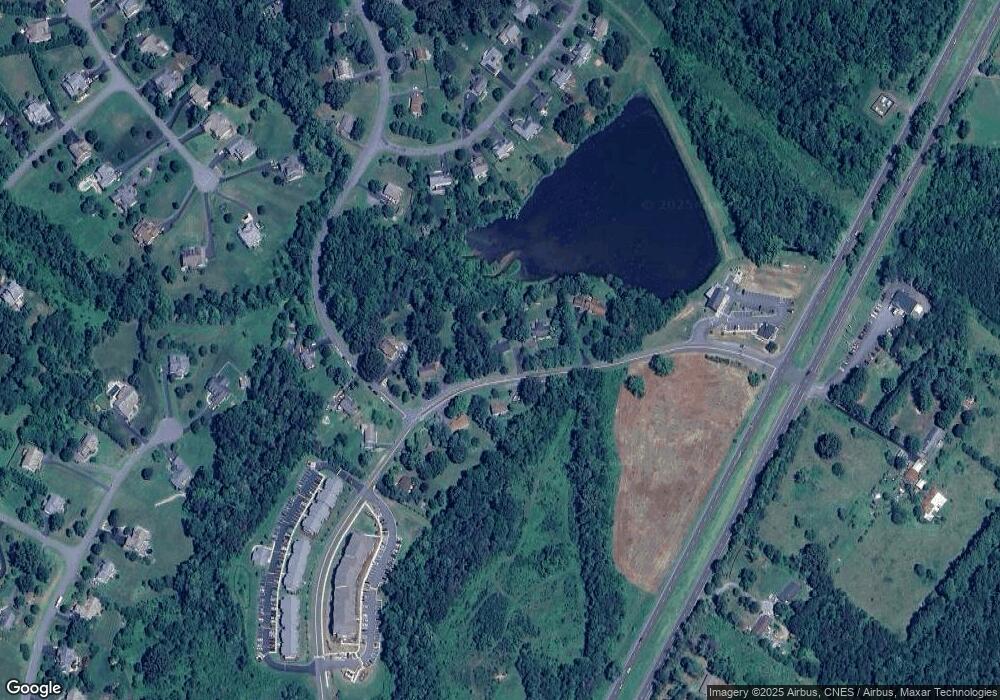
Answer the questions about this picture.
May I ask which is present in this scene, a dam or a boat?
dam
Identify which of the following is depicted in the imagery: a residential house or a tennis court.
residential house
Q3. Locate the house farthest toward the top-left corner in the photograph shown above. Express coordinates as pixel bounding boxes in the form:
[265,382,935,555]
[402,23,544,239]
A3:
[25,21,51,41]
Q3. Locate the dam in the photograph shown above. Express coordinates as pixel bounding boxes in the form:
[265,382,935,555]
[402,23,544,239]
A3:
[641,71,740,280]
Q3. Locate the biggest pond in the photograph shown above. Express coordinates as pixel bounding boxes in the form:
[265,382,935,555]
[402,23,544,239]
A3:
[466,90,723,302]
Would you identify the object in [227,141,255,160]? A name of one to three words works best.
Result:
house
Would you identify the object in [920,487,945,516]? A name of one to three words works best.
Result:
barn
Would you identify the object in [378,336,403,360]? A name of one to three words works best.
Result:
house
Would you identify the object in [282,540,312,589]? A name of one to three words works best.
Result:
building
